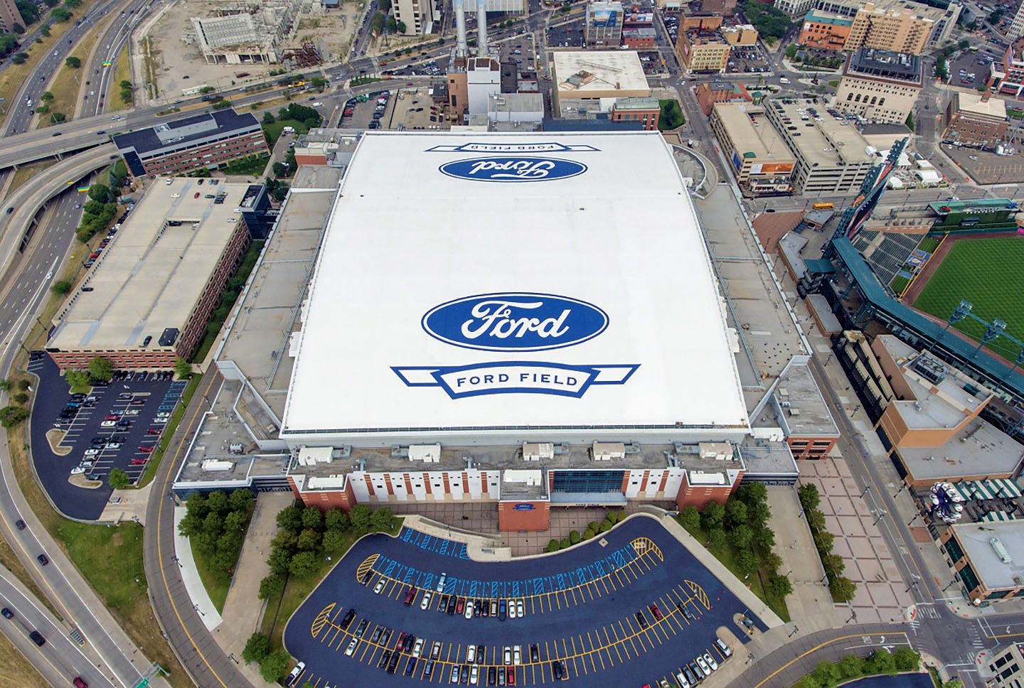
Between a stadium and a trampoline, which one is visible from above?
stadium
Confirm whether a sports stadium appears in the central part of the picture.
Yes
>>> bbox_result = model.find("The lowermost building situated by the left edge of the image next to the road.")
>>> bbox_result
[43,176,254,373]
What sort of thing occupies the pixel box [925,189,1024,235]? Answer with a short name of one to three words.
building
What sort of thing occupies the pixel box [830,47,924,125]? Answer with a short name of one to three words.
building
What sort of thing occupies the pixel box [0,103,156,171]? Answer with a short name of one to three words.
overpass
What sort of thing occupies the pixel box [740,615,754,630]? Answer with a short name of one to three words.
car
